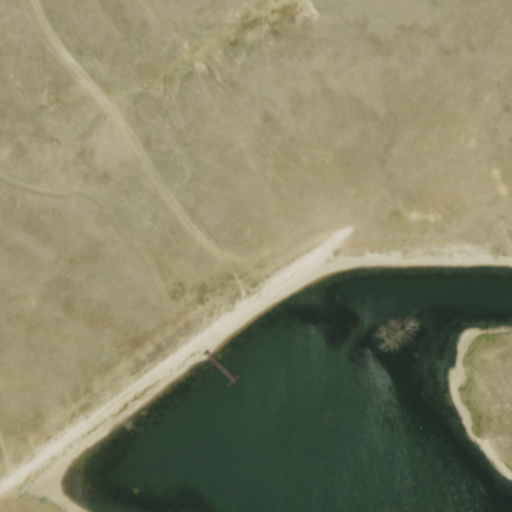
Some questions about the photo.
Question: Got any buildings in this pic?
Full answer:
No, this view has no building in it.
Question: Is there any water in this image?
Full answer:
Yes, the picture does contain water.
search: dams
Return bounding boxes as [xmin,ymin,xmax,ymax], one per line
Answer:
[0,228,350,512]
